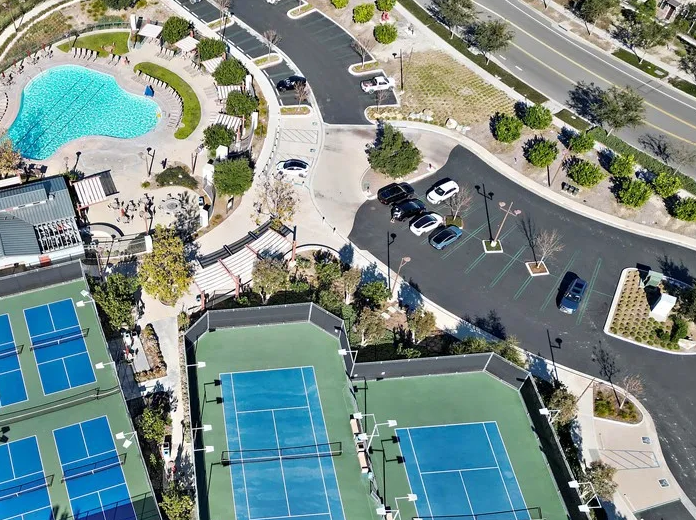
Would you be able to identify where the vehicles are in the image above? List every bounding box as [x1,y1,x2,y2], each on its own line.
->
[410,213,445,233]
[429,225,464,247]
[277,75,308,92]
[561,278,590,311]
[379,182,415,205]
[362,74,397,92]
[277,161,311,177]
[428,179,459,202]
[393,198,428,220]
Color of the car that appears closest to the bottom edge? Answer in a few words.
blue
